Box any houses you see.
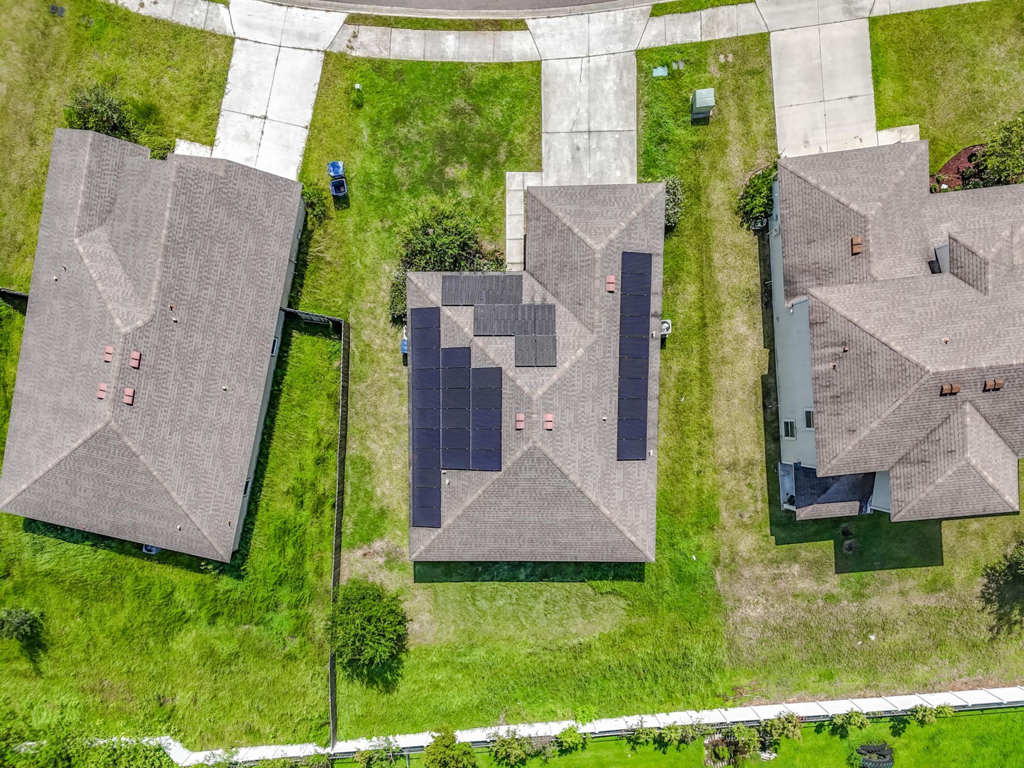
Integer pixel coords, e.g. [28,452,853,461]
[405,182,667,563]
[0,128,307,564]
[760,139,1024,523]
